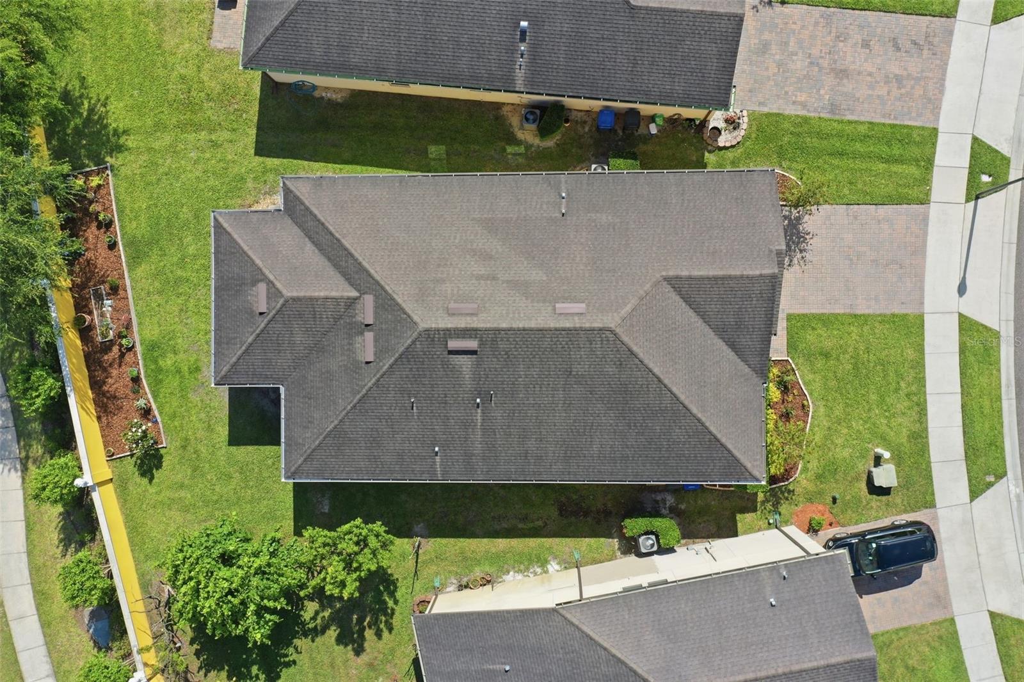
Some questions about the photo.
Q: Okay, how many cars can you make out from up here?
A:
one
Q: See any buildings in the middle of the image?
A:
Yes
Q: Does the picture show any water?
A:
No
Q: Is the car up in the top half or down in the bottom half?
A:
bottom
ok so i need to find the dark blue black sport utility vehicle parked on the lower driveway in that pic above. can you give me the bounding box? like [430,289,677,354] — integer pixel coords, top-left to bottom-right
[821,519,940,583]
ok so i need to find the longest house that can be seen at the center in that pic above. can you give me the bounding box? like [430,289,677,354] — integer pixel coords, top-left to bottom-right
[209,169,788,484]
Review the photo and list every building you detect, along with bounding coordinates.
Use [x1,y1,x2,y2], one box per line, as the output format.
[409,526,883,682]
[239,0,750,118]
[209,169,788,484]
